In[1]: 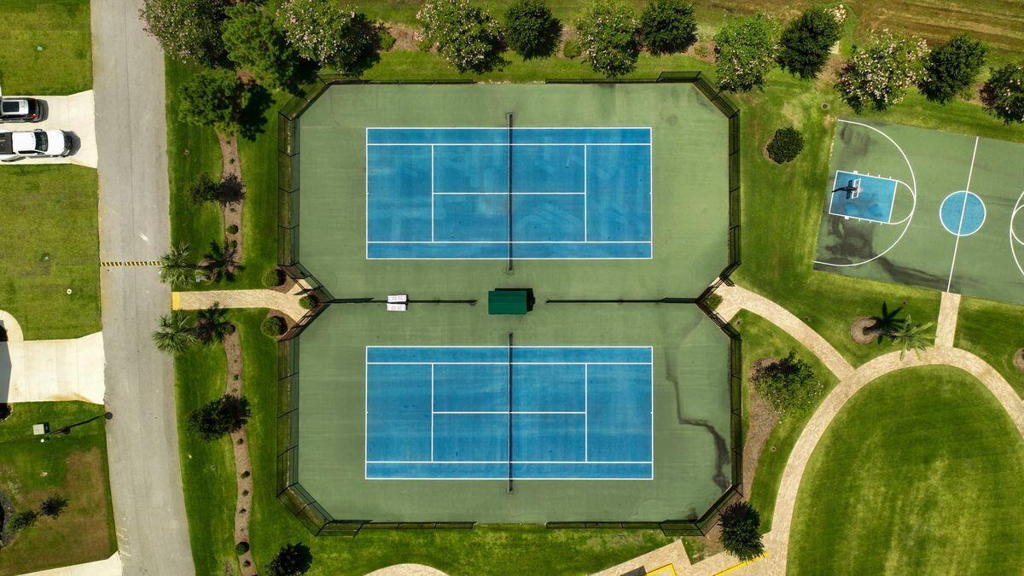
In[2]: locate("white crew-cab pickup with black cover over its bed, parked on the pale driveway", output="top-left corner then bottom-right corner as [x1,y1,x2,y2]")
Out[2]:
[0,130,77,159]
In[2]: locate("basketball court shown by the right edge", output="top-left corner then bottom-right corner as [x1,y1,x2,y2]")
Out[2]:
[814,120,1024,305]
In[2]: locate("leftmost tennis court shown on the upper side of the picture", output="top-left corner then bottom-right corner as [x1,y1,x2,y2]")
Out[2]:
[290,83,729,301]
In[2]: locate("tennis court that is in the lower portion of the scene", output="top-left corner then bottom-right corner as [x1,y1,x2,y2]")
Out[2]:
[288,301,732,523]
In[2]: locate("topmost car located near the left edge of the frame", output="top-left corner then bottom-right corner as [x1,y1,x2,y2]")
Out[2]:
[0,96,45,124]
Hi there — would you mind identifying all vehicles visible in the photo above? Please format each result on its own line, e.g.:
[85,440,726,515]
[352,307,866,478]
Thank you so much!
[0,130,77,159]
[0,96,45,124]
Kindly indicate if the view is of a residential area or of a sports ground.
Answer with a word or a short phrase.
sports ground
